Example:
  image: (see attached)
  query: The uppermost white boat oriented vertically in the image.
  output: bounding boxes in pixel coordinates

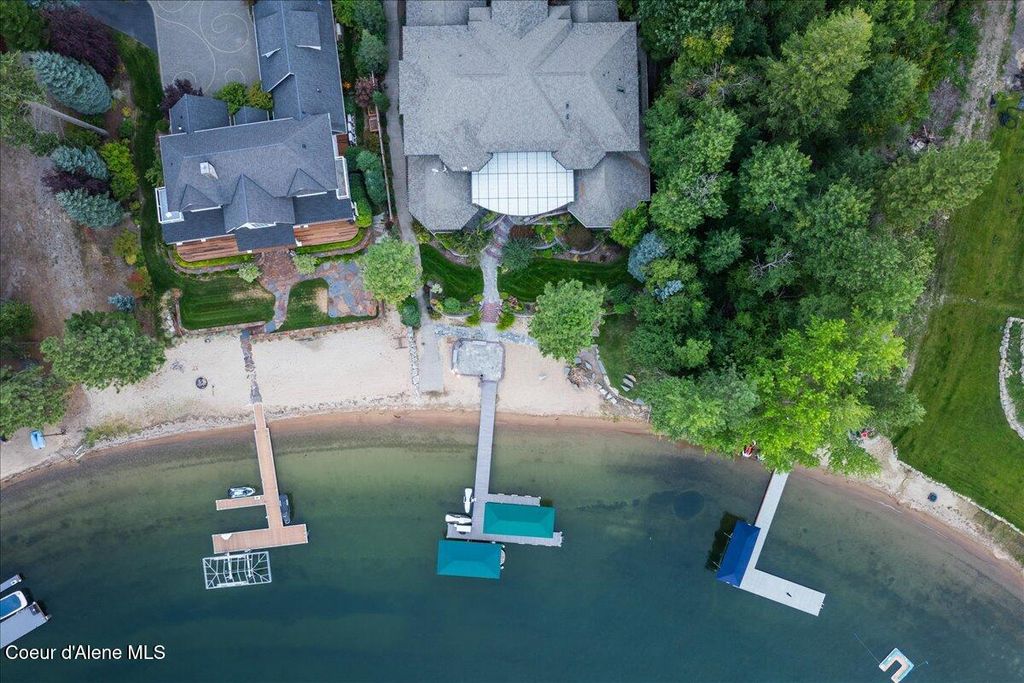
[460,487,473,515]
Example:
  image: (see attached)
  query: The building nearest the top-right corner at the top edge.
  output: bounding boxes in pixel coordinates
[399,0,651,233]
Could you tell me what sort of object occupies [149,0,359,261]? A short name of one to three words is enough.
house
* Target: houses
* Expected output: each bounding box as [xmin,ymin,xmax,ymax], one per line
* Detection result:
[399,0,651,233]
[149,0,359,261]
